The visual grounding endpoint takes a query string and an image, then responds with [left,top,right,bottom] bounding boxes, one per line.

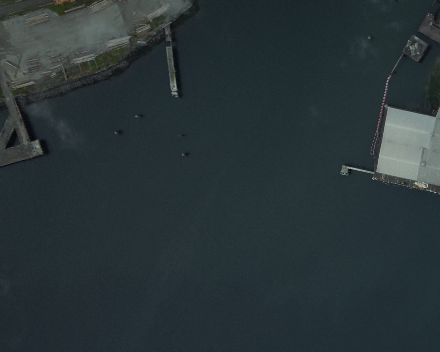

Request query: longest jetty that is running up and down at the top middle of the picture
[165,24,182,91]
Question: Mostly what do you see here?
water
